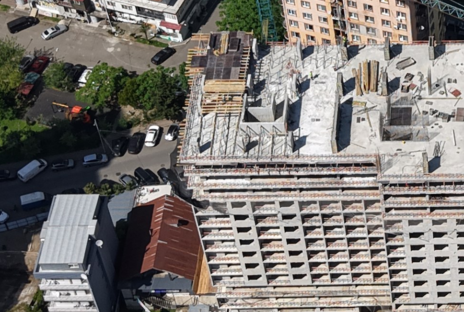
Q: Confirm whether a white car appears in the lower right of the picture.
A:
No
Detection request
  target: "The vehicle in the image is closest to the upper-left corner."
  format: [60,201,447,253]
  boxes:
[8,12,38,36]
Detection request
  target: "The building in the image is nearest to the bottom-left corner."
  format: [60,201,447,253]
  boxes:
[34,187,121,312]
